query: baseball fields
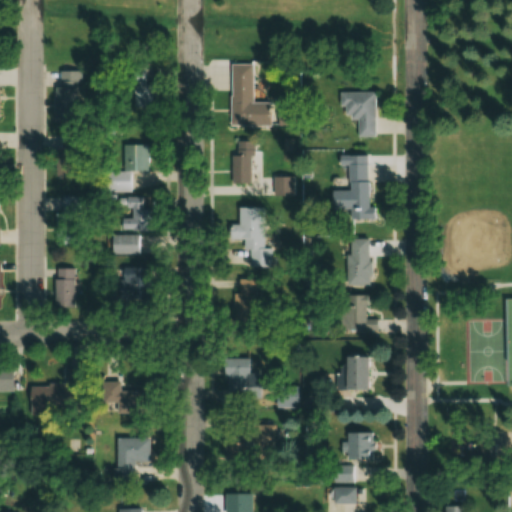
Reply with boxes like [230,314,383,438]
[444,210,512,277]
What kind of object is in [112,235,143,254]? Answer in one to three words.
building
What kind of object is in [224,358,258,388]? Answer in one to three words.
house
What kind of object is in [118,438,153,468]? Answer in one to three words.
house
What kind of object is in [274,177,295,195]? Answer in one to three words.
building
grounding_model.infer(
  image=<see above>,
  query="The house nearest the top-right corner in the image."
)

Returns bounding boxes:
[340,92,378,138]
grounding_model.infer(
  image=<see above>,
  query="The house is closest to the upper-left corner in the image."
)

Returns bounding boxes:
[56,71,86,110]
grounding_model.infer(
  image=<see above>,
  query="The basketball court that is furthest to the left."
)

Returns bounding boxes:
[468,320,504,384]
